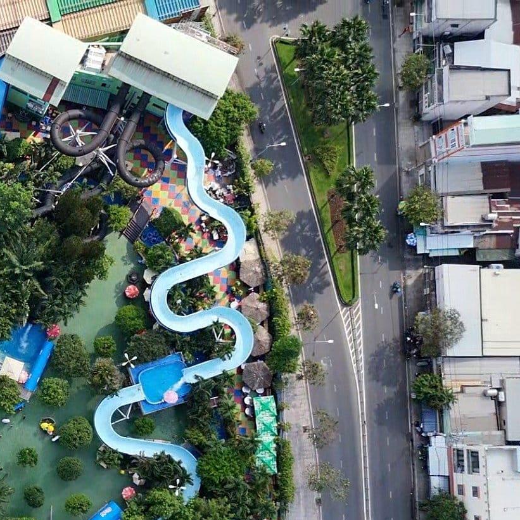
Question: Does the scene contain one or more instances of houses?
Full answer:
Yes, the frame does contain a house.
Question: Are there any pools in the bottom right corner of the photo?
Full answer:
No, there is no pool in the bottom right corner of the photo.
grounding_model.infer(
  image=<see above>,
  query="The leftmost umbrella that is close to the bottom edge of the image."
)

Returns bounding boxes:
[121,486,134,500]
